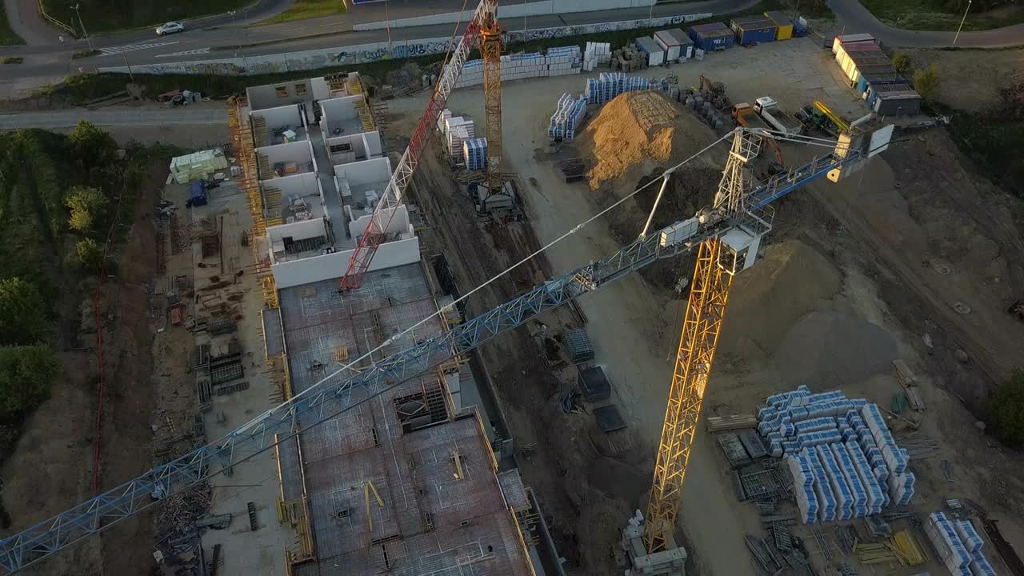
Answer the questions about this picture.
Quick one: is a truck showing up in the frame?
Yes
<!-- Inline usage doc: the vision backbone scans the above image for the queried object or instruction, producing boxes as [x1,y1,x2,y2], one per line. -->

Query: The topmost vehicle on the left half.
[155,21,182,34]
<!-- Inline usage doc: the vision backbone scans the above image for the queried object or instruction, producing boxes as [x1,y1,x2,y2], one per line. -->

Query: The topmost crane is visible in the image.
[333,0,519,293]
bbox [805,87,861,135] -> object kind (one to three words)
truck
